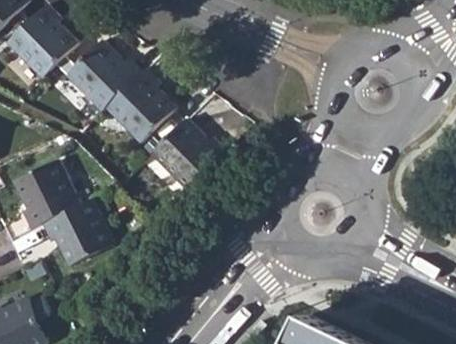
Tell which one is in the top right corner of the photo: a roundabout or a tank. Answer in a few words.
roundabout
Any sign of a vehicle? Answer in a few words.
Yes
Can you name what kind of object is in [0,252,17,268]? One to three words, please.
car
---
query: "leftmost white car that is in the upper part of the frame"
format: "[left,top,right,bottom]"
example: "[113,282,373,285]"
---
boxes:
[314,120,330,142]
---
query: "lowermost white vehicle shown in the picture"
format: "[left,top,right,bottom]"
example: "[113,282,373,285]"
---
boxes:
[208,304,258,344]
